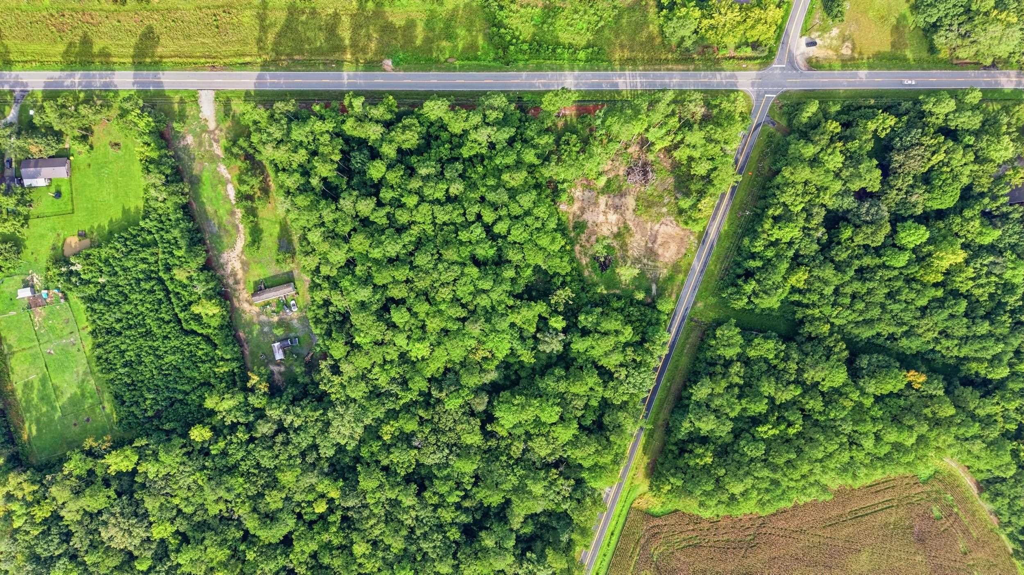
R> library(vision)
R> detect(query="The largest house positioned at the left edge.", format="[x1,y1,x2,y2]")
[20,157,72,188]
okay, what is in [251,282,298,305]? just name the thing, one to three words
house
